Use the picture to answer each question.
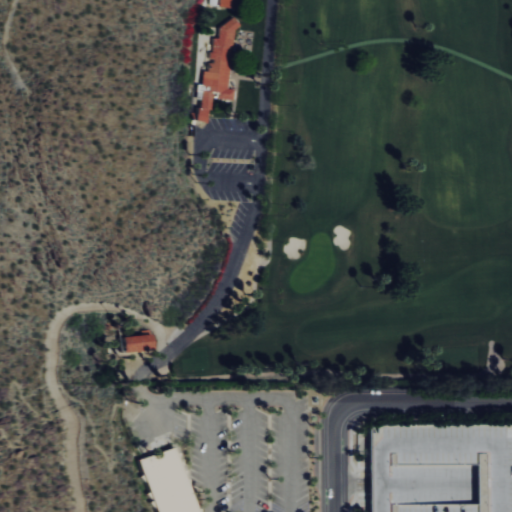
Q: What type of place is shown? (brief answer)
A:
golf course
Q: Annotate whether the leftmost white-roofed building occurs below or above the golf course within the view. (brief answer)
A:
below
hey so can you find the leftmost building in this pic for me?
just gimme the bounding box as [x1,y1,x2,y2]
[124,330,157,352]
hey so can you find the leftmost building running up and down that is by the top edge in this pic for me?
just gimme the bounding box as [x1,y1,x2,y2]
[194,18,240,124]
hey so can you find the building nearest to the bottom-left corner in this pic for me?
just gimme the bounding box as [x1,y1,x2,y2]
[136,446,202,512]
